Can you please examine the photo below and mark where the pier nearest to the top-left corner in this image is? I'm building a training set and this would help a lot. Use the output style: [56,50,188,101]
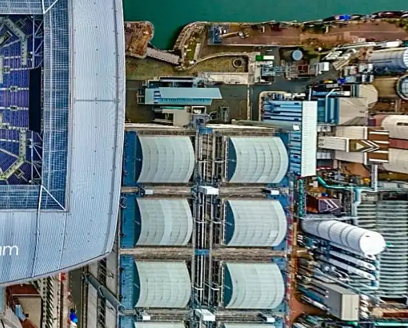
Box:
[122,21,153,58]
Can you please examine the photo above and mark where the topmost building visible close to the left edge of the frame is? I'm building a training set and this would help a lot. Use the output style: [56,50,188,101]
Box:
[6,280,40,307]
